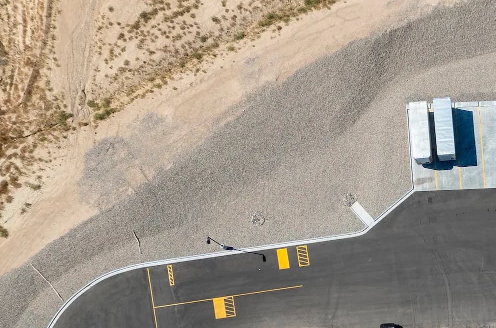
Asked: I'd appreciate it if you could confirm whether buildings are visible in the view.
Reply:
No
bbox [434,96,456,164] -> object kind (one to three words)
trailer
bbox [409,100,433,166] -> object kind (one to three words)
trailer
